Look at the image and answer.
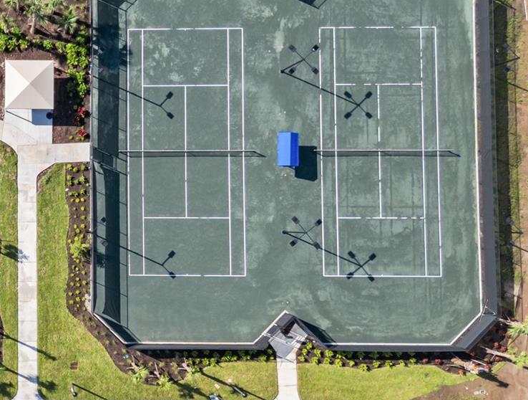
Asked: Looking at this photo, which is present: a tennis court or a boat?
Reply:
tennis court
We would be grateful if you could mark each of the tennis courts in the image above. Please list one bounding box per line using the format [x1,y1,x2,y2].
[321,28,440,275]
[129,29,245,276]
[91,0,484,345]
